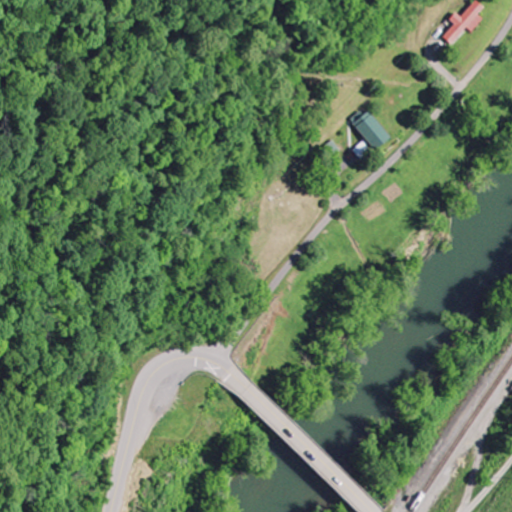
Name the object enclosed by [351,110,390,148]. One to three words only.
building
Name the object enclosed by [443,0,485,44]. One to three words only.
house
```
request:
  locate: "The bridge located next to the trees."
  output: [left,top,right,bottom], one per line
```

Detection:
[214,362,380,512]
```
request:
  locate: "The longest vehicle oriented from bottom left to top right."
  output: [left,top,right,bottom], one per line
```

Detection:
[412,490,426,509]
